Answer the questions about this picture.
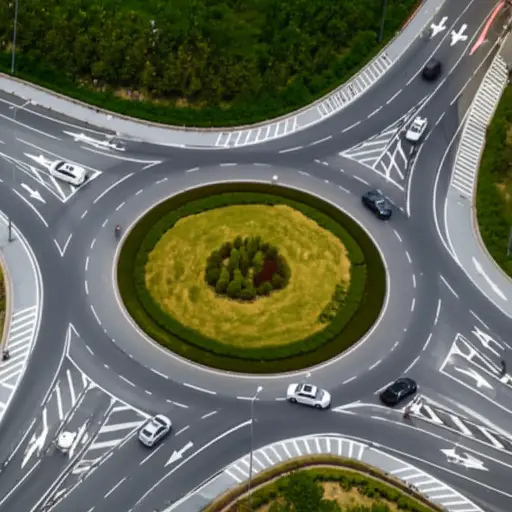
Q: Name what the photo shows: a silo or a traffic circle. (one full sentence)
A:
Of the two, only a traffic circle appears.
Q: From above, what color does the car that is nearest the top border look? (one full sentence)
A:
The color of the car that is nearest the top border is black.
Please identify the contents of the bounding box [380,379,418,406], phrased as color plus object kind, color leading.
black car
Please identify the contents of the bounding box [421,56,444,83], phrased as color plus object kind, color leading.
black car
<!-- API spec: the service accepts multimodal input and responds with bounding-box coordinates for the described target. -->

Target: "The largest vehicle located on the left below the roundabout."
[139,414,174,447]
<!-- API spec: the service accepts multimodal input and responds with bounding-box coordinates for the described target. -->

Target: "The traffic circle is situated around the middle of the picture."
[73,155,428,408]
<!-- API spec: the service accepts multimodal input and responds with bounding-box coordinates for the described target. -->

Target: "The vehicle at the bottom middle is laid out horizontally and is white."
[287,384,331,408]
